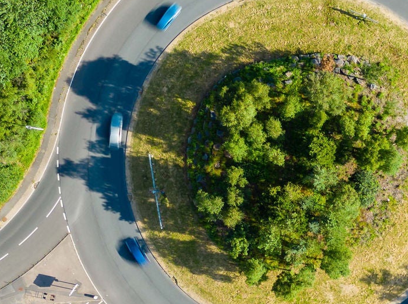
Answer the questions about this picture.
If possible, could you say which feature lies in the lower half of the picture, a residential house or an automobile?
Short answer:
automobile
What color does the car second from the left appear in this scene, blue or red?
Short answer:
blue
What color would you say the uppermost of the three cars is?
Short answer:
blue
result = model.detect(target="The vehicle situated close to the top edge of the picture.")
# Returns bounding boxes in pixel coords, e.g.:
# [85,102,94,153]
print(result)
[157,3,181,30]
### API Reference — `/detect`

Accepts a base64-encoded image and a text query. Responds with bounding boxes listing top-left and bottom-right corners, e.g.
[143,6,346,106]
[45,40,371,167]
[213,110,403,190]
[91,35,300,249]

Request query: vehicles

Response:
[157,3,181,30]
[108,115,122,146]
[126,238,149,264]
